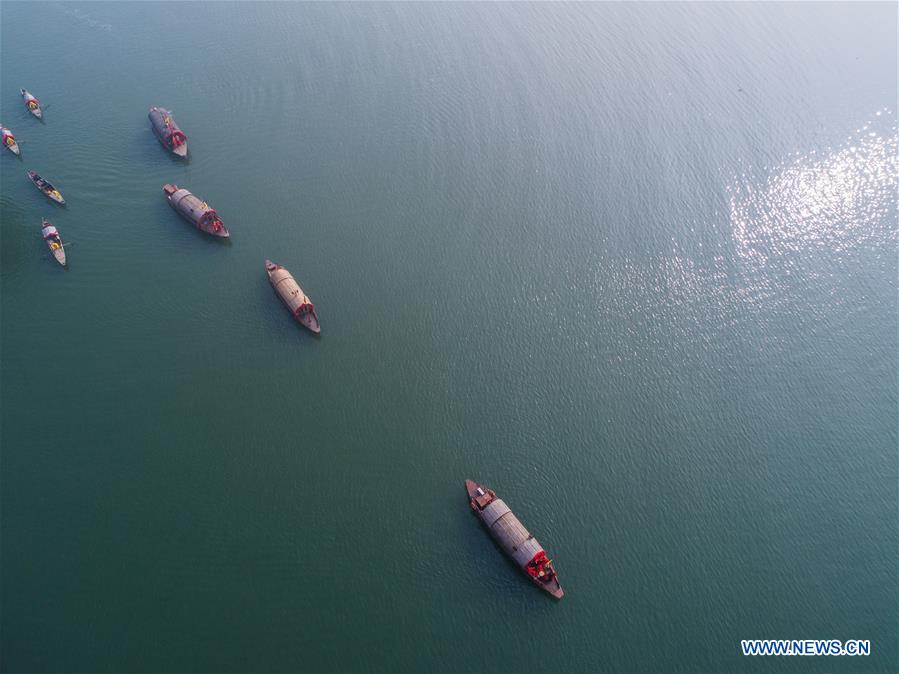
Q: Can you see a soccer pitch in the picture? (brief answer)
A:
No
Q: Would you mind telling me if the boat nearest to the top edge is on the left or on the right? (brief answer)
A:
left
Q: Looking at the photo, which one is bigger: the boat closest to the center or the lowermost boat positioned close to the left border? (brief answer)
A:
the boat closest to the center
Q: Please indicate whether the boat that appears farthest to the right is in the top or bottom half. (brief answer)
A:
bottom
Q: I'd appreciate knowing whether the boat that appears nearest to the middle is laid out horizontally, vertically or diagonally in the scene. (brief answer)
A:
diagonally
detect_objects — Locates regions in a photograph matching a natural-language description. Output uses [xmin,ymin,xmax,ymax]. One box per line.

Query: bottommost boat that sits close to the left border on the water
[38,216,79,269]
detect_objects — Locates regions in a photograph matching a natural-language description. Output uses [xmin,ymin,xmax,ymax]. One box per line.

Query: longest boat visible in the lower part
[464,479,565,600]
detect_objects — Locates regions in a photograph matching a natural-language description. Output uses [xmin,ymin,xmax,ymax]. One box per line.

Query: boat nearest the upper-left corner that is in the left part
[18,88,42,119]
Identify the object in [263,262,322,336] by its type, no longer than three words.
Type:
boat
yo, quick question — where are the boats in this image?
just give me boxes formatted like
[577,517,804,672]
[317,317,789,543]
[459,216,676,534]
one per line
[464,479,565,600]
[0,124,31,157]
[18,88,42,119]
[161,183,232,243]
[147,108,190,161]
[25,170,66,205]
[38,216,79,269]
[263,262,322,336]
